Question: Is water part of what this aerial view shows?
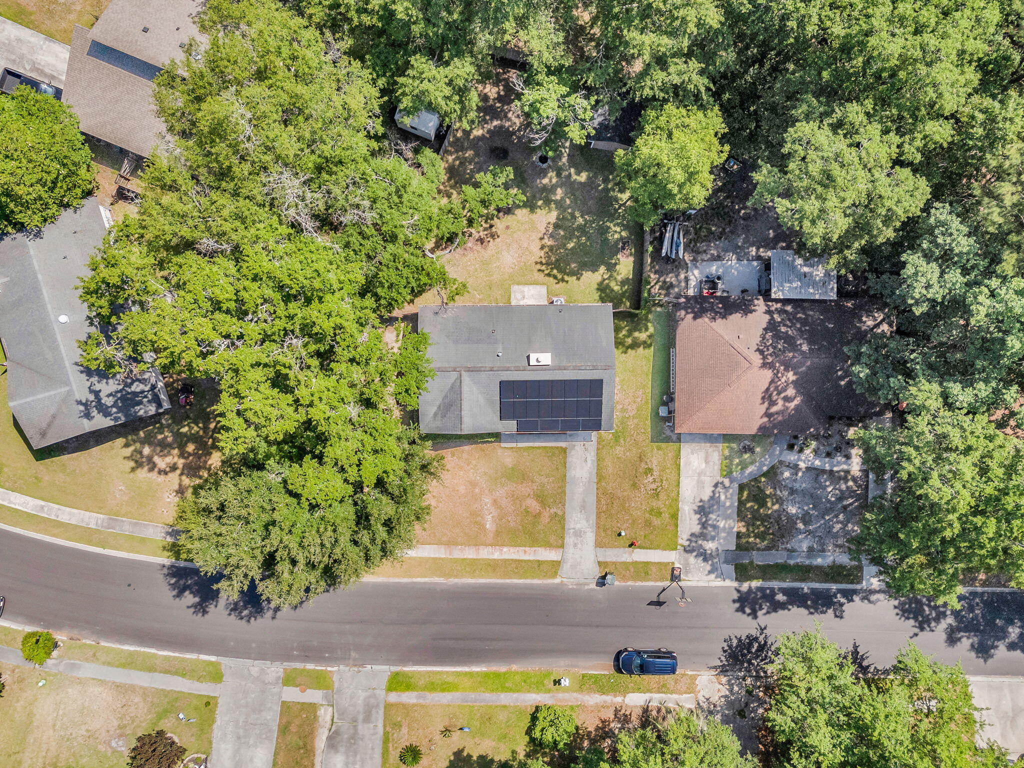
No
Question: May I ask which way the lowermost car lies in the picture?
from side to side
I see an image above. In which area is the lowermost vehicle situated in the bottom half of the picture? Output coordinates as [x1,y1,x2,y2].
[613,647,677,679]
